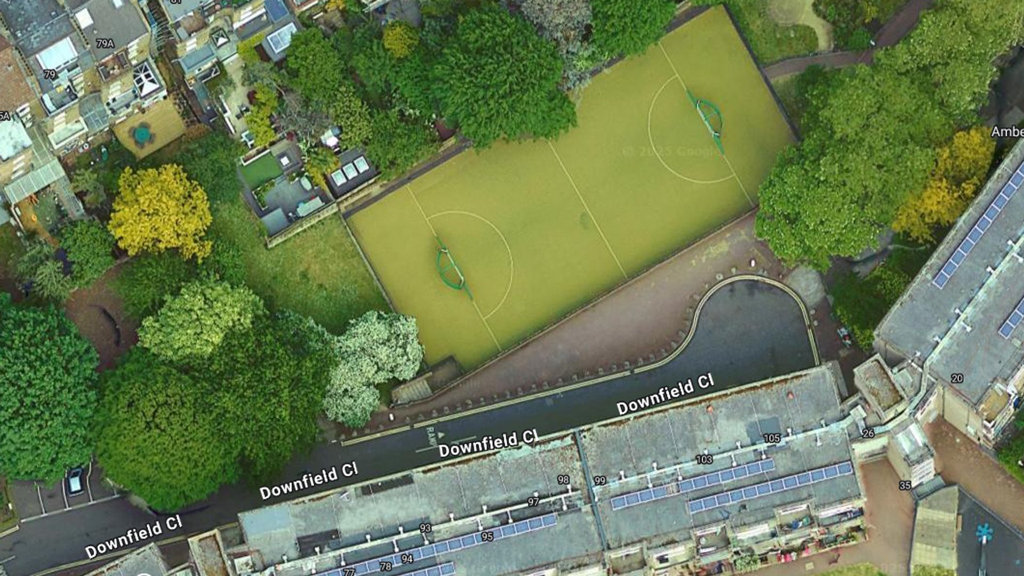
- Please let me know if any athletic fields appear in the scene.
Yes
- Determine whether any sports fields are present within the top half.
Yes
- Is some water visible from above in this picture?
No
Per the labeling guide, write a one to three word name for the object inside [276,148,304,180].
shed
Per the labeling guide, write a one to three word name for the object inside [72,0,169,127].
house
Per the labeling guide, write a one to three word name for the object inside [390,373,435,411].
shed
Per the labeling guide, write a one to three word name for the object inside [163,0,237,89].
house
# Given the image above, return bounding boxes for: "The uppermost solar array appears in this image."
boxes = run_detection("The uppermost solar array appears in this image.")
[933,154,1024,285]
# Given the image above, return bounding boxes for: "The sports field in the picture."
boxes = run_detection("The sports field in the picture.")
[346,6,811,369]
